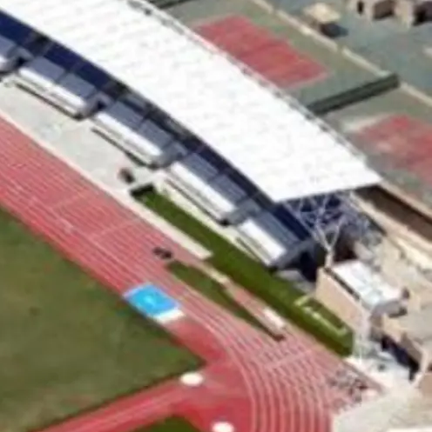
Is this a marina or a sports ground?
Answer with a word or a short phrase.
sports ground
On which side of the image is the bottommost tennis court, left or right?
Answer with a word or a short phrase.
right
